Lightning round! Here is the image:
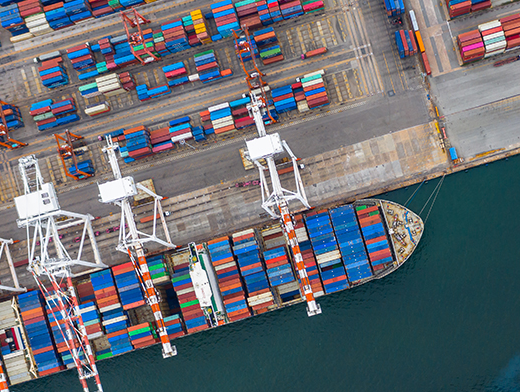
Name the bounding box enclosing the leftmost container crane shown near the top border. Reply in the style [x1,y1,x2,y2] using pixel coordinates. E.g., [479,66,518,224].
[121,5,162,66]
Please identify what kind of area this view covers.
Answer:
port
